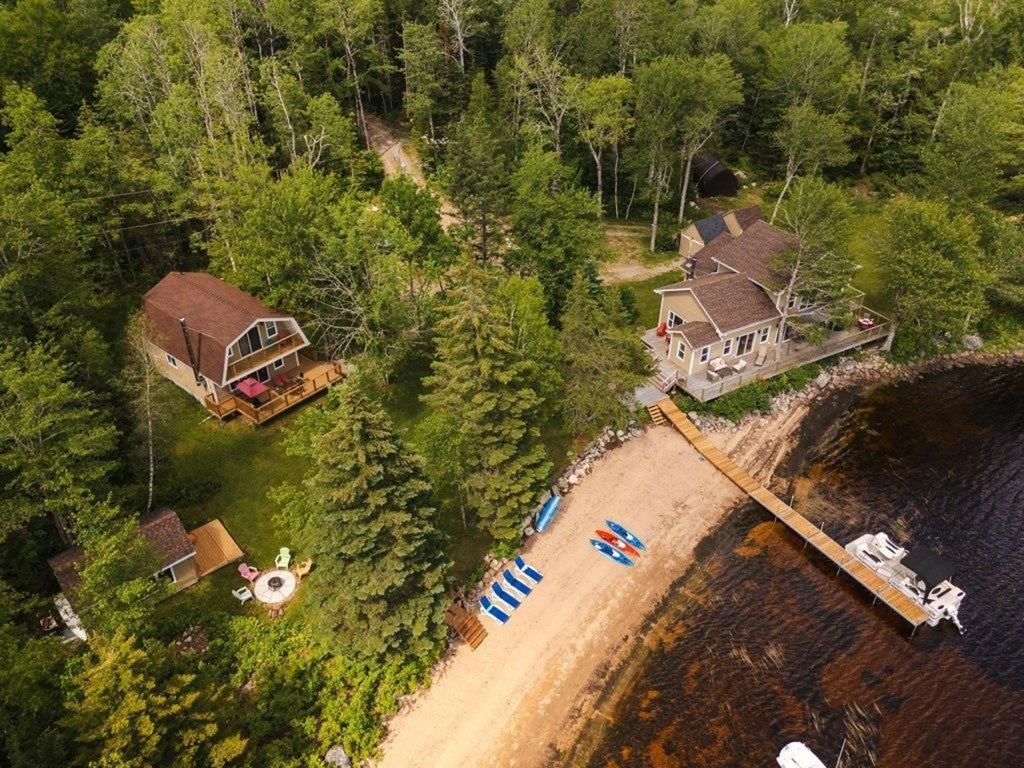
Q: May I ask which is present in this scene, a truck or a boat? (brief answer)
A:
boat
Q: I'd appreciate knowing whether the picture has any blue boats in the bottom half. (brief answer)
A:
Yes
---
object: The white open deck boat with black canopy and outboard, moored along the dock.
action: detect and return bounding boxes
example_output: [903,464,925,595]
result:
[840,532,974,638]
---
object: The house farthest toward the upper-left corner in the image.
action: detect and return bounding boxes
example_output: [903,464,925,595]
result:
[136,273,346,430]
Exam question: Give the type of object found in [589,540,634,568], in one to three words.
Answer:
boat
